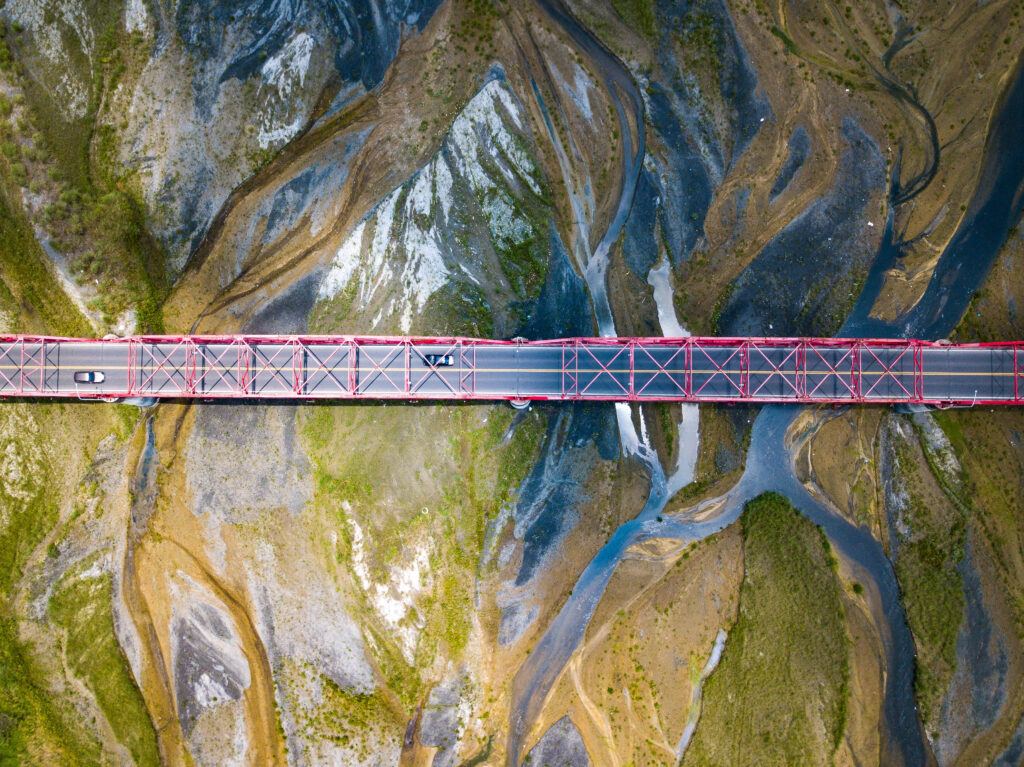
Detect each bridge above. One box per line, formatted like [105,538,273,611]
[0,333,1024,414]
